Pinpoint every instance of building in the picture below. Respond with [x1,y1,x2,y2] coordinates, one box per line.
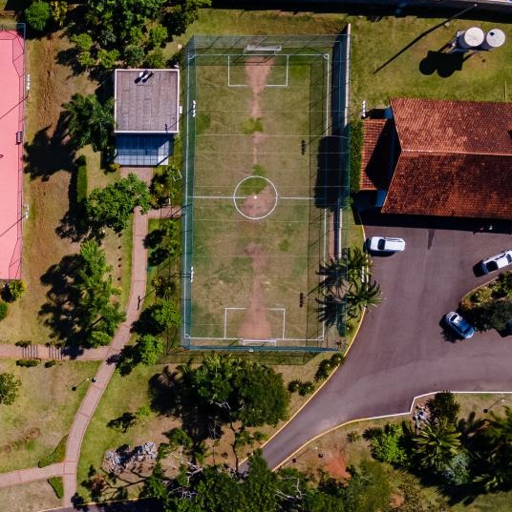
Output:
[356,98,512,221]
[110,69,179,165]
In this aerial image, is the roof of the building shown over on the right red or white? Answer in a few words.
red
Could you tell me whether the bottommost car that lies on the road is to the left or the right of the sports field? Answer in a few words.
to its right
